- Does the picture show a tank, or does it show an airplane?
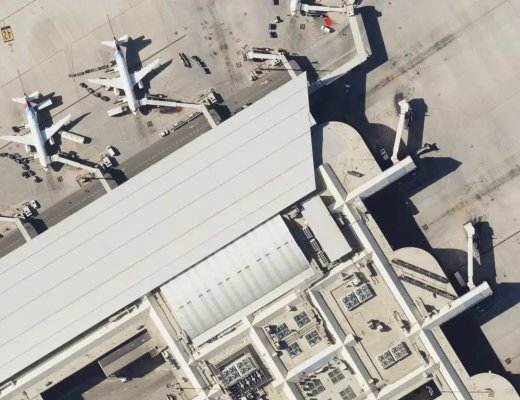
airplane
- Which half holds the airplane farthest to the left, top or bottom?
top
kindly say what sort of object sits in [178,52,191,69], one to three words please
vehicle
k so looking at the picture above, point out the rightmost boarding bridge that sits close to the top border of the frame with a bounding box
[299,0,372,94]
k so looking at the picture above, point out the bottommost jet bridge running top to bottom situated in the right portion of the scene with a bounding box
[463,220,476,288]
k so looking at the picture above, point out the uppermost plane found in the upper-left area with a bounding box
[88,36,158,115]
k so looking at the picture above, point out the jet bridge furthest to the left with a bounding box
[0,213,32,243]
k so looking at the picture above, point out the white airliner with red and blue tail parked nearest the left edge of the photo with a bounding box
[0,92,69,172]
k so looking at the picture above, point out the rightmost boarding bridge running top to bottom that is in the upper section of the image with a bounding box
[391,96,410,164]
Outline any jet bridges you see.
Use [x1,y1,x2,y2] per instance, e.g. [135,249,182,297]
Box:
[391,96,410,164]
[463,220,476,288]
[50,154,113,193]
[137,98,218,128]
[243,51,297,80]
[0,213,32,243]
[299,0,372,94]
